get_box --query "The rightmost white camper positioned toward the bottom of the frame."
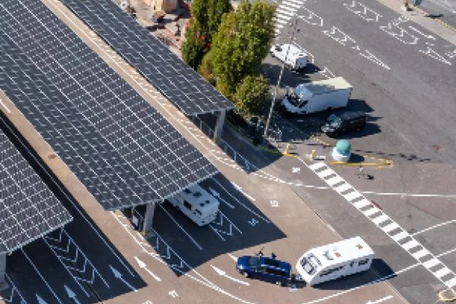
[298,231,380,276]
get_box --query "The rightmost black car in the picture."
[326,113,367,138]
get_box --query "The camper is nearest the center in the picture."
[162,184,220,230]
